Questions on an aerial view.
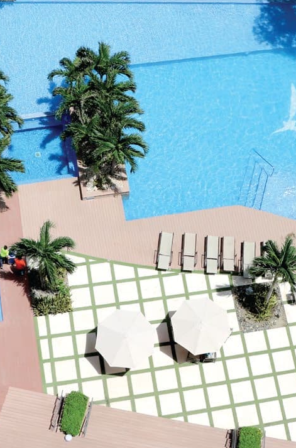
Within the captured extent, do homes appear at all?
No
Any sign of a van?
No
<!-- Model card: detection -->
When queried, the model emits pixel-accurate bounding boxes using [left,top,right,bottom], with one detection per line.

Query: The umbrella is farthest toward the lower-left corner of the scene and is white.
[95,311,157,372]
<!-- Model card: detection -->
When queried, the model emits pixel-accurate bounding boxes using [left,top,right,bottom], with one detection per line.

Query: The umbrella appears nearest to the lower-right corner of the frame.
[168,298,230,360]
